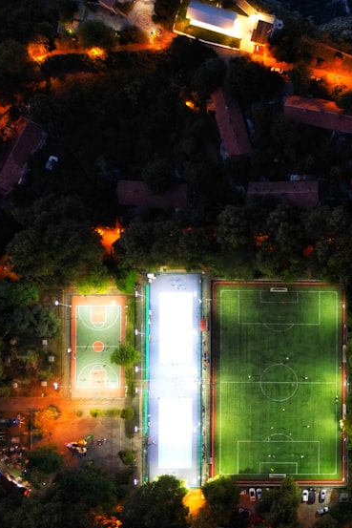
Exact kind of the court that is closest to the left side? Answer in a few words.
basketball court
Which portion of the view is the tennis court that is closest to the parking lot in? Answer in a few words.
bottom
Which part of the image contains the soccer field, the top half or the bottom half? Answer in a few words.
bottom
